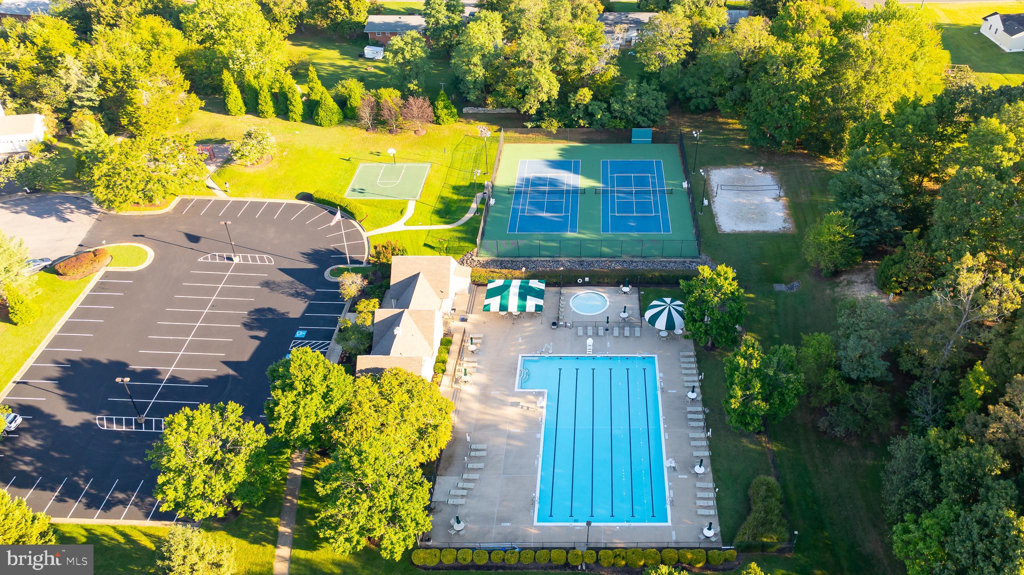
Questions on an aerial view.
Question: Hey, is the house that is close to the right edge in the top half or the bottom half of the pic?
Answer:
top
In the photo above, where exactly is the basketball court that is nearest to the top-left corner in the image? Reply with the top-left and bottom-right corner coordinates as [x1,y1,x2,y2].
[346,162,431,200]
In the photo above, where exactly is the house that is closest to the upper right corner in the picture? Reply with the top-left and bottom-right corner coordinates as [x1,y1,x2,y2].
[980,10,1024,52]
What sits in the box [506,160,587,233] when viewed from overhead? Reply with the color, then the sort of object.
blue tennis court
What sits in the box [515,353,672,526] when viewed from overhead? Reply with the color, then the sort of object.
blue swimming pool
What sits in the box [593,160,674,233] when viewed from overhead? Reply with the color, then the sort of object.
blue tennis court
